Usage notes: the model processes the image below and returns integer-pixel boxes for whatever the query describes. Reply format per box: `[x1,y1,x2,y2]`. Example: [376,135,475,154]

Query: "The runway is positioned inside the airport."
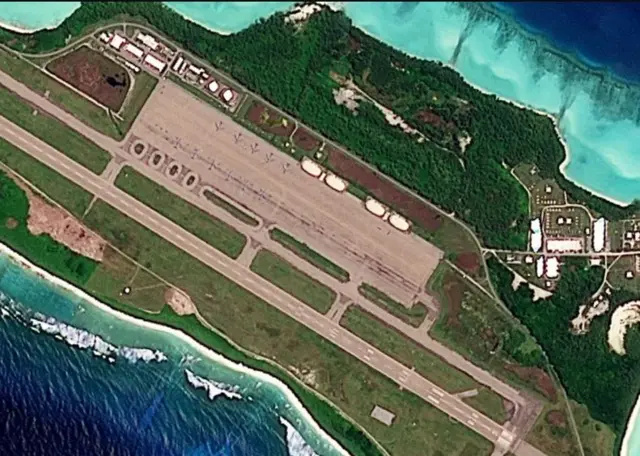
[0,117,514,450]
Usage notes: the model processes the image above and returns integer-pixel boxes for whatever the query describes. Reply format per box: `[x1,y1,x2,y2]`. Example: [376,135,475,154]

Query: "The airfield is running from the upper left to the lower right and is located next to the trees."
[0,71,544,456]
